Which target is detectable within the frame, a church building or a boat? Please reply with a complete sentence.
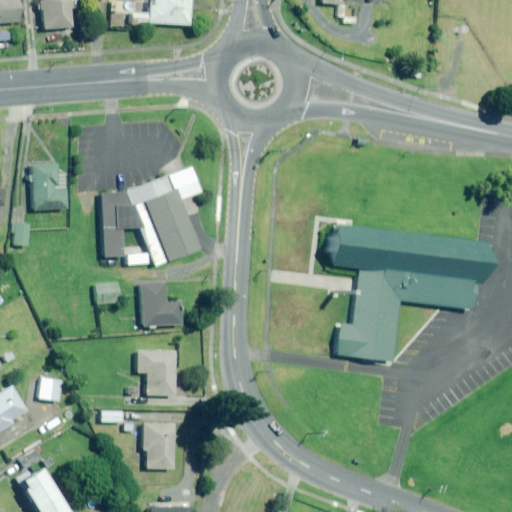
Looking from above, you can make out a church building.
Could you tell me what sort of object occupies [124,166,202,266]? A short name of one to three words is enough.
building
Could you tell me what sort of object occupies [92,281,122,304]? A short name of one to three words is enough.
shed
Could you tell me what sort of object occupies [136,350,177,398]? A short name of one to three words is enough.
house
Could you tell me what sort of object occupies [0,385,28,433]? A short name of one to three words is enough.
house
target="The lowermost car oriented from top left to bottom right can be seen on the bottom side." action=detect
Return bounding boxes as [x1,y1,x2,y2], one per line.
[269,420,284,435]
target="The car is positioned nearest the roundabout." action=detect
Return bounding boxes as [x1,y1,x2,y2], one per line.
[266,24,279,40]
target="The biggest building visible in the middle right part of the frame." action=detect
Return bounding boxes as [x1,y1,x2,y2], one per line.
[328,226,501,362]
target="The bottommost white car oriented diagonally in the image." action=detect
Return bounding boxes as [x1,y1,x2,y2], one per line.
[4,464,20,476]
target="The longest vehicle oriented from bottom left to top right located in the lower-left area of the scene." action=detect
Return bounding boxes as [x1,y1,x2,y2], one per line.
[38,418,63,436]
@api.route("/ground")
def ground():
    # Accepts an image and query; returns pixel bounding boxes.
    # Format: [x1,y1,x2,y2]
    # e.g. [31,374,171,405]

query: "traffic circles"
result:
[206,34,306,132]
